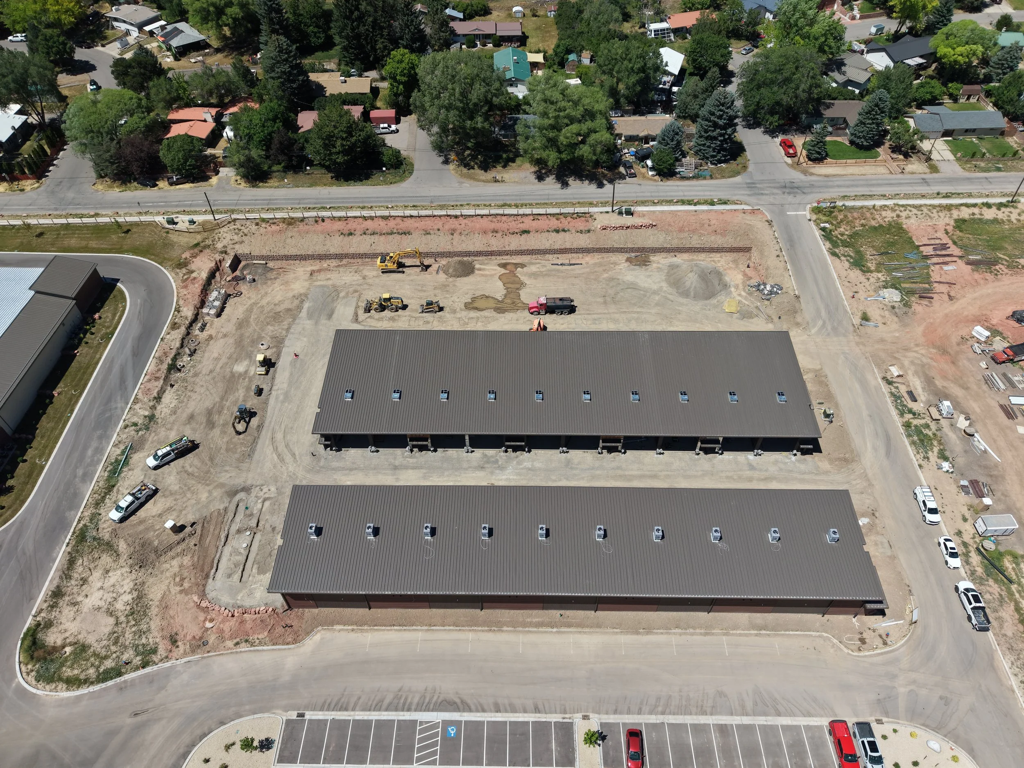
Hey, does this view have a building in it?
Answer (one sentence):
Yes, the picture does show a building.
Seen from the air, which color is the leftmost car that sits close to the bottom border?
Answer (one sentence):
The leftmost car that sits close to the bottom border is red.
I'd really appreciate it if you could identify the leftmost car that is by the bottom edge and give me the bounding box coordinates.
[626,726,649,768]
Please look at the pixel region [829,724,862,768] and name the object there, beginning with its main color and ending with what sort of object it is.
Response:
red truck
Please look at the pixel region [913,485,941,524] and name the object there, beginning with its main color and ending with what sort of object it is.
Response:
white truck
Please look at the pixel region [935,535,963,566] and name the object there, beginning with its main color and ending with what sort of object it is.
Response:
white car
